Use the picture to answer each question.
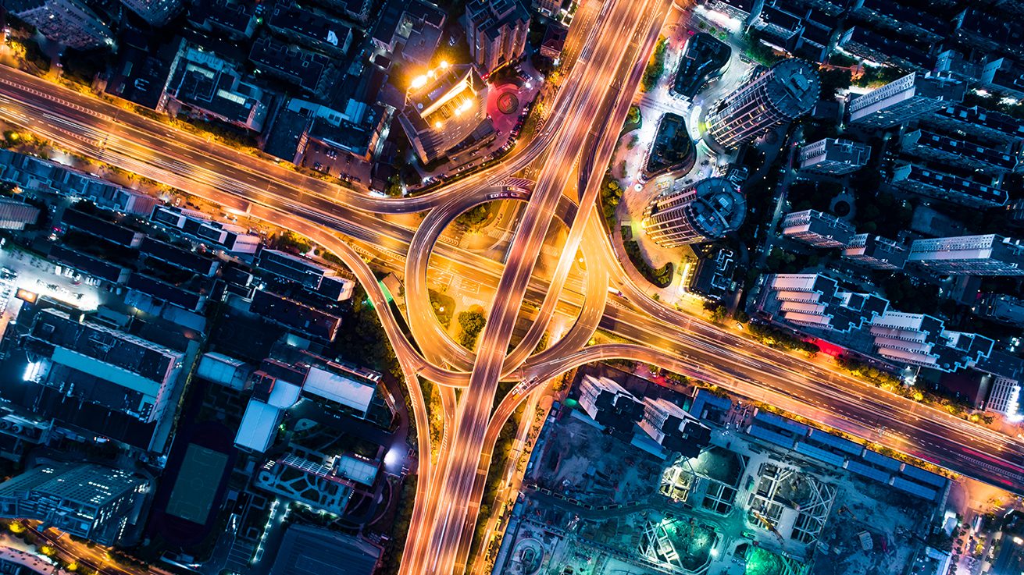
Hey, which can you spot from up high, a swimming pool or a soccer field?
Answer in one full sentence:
I can see a soccer field in this picture.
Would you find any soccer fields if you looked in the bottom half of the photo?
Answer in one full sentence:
Yes, a soccer field is visible in the bottom half of the photo.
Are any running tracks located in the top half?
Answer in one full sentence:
No, looking in the top half, there is no running track.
